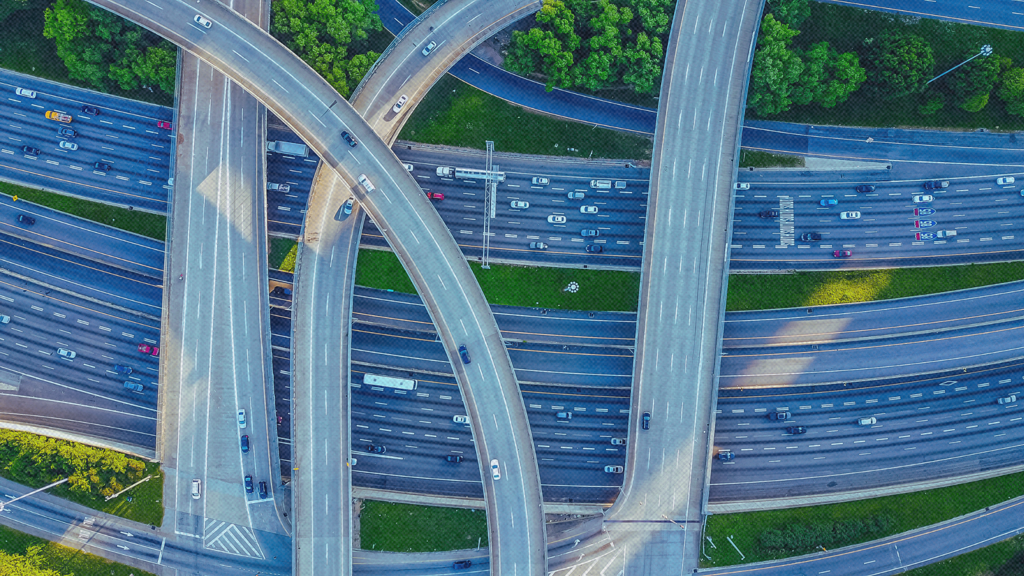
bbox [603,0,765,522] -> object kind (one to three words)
bridge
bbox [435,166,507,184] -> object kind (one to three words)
vehicle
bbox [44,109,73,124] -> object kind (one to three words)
vehicle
